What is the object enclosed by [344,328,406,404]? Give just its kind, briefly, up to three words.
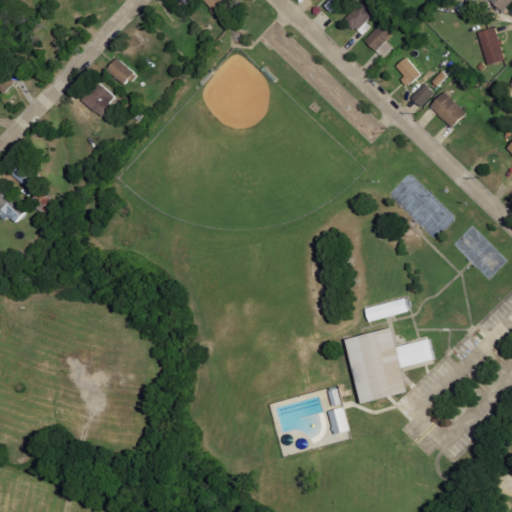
building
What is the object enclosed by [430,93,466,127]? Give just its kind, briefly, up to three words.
house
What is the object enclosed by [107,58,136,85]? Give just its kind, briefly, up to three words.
house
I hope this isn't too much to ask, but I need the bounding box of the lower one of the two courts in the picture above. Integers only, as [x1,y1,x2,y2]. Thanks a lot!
[454,226,508,279]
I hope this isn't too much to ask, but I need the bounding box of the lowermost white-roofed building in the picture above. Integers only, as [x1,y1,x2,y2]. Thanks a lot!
[328,407,350,434]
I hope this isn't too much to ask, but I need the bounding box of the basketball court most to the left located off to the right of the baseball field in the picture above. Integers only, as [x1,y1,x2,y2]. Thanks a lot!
[392,176,452,237]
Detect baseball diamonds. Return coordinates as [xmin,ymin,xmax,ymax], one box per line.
[118,49,364,230]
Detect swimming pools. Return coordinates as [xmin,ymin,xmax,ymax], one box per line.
[270,386,351,457]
